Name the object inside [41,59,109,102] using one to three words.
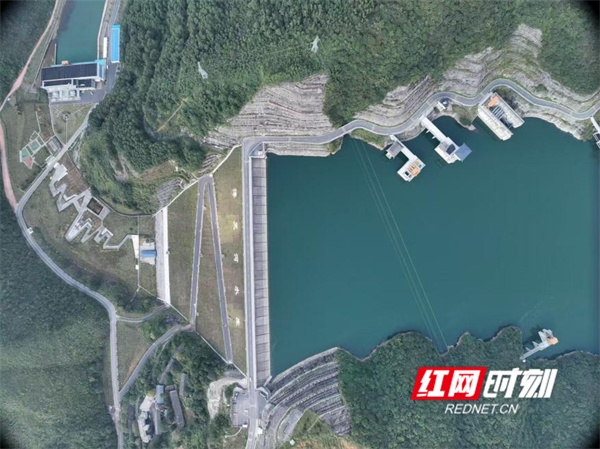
building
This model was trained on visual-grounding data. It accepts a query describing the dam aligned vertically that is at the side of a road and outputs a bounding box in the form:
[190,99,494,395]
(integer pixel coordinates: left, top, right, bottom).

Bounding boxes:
[155,136,271,385]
